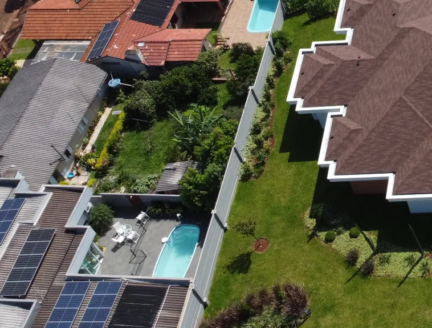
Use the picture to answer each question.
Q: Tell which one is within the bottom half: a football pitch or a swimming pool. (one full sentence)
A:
The feature located within the bottom half is a swimming pool.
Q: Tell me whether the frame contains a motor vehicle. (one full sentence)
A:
No, the picture doesn't show any motor vehicle.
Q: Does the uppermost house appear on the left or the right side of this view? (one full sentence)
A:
The uppermost house sits on the left side.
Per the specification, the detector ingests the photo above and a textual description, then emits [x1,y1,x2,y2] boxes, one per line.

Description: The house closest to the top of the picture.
[21,0,212,88]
